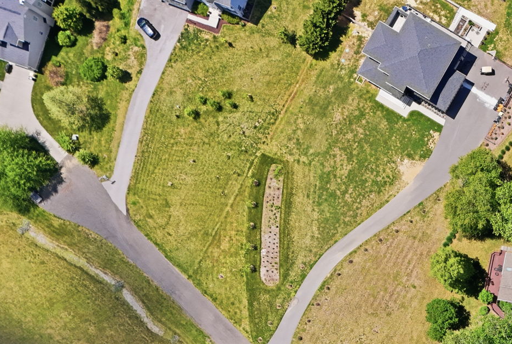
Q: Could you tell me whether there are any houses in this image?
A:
Yes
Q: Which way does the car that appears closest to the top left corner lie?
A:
diagonally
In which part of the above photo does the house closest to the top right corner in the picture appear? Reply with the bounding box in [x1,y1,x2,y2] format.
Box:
[354,3,470,115]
